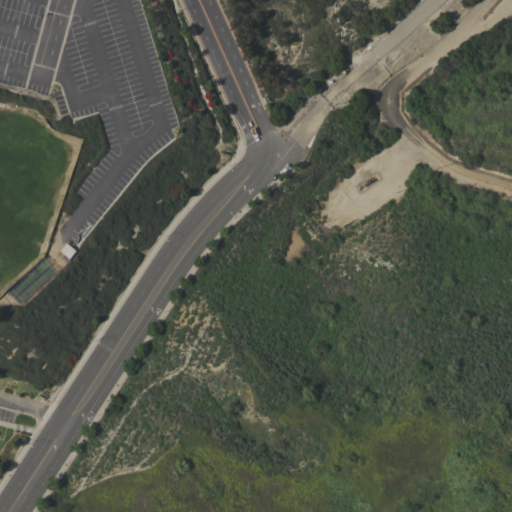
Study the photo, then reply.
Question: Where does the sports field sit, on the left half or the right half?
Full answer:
The sports field is on the left side of the image.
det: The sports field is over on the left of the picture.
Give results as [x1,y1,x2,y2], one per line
[0,103,82,302]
